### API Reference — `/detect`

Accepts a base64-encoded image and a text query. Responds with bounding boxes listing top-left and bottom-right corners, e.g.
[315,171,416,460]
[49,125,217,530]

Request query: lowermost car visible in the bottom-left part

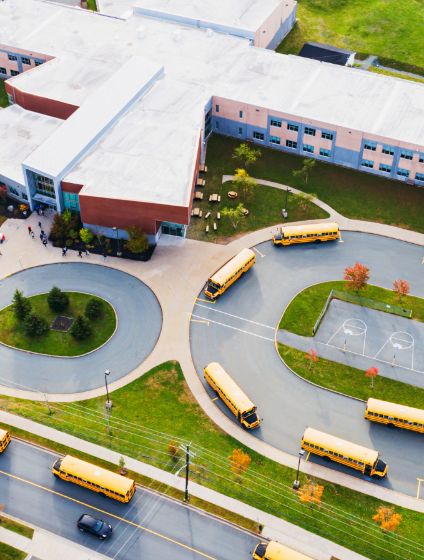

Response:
[76,514,111,539]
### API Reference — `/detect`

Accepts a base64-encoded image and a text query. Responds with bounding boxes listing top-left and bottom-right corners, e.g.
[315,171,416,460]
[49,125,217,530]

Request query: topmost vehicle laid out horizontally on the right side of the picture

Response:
[271,224,340,250]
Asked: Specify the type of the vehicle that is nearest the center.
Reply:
bus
